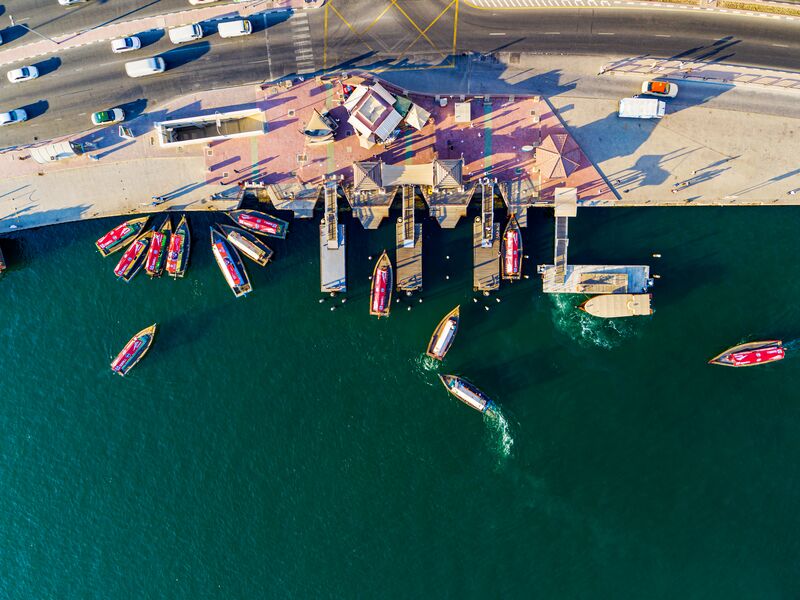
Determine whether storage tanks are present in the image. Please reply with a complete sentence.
No, there appears to be no storage tank in this shot.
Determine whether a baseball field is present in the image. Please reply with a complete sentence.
No, there's no baseball field here.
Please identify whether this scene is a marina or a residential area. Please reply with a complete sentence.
It's a marina.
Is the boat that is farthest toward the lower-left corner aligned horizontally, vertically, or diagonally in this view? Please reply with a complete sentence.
Seen from above, the boat that is farthest toward the lower-left corner lies diagonally.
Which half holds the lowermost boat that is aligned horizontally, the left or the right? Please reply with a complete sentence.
The lowermost boat that is aligned horizontally appears in the right half of the scene.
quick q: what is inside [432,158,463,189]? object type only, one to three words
building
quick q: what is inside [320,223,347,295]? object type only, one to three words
pier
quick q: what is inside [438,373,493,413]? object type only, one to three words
boat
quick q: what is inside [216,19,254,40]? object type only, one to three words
vehicle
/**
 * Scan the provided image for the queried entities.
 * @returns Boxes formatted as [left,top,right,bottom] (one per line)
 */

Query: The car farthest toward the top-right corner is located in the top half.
[641,80,677,96]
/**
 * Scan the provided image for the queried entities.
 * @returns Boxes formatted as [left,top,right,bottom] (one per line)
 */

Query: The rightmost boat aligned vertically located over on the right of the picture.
[502,207,521,281]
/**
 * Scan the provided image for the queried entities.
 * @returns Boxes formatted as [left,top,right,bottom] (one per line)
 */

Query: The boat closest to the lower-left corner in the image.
[111,323,159,377]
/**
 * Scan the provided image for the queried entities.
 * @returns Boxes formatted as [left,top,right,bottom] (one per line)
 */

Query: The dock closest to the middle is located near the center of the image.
[395,223,423,294]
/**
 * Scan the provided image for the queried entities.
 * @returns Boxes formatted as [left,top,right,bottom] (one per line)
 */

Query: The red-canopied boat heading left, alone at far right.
[704,342,786,366]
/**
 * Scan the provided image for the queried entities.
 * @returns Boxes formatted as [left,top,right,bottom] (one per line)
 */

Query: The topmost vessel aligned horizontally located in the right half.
[577,294,652,316]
